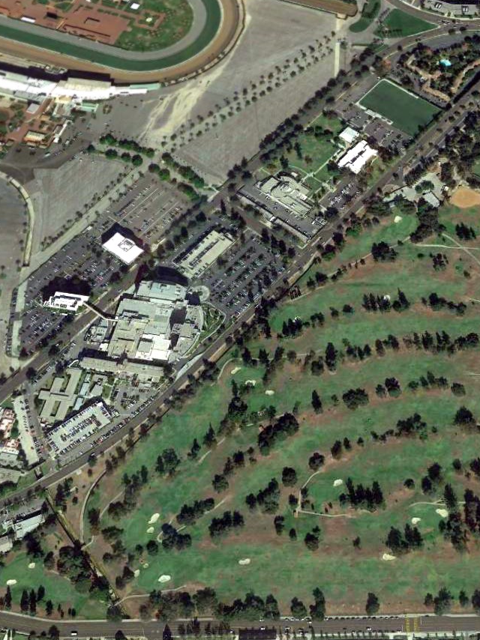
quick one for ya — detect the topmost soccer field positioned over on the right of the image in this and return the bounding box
[358,78,444,137]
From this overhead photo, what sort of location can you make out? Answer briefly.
golf course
